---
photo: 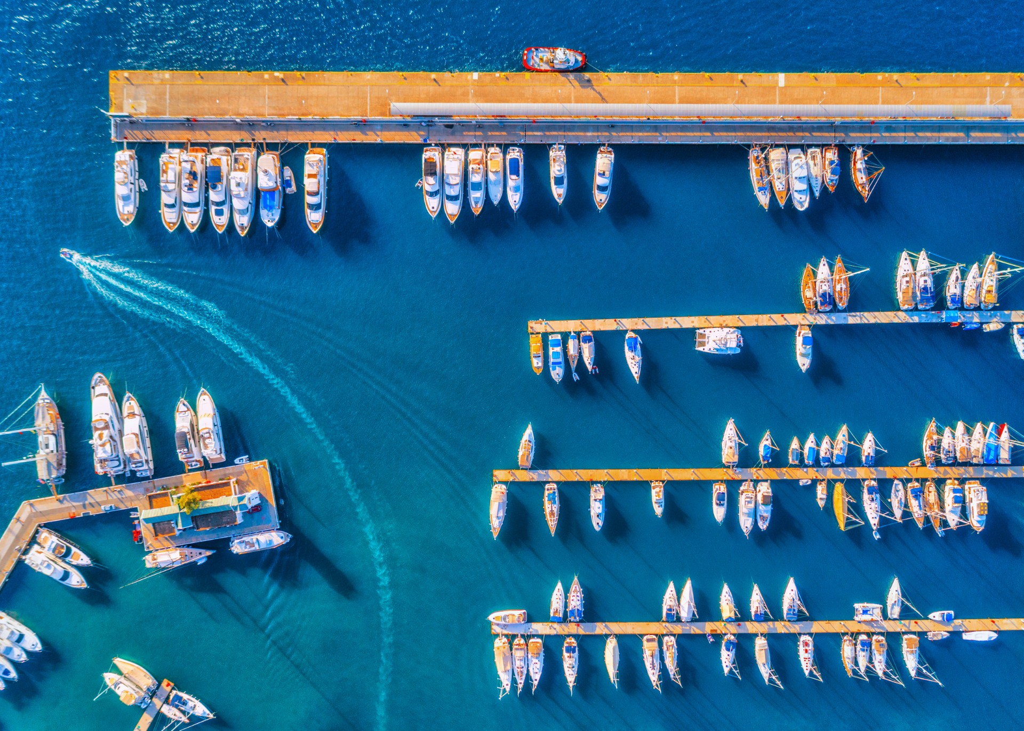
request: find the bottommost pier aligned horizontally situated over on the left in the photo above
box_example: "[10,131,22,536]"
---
[0,460,281,593]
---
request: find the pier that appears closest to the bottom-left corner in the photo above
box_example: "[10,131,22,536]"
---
[134,678,175,731]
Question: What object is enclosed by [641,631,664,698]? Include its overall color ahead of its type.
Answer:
white boat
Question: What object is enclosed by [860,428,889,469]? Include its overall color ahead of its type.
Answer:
white boat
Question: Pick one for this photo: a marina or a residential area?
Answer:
marina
